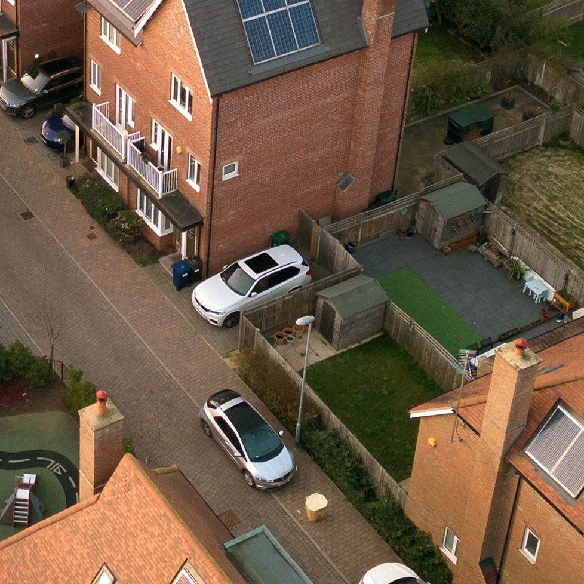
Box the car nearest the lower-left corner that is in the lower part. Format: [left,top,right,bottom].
[201,388,299,490]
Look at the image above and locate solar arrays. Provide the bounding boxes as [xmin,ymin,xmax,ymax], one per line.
[236,0,329,76]
[96,0,159,35]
